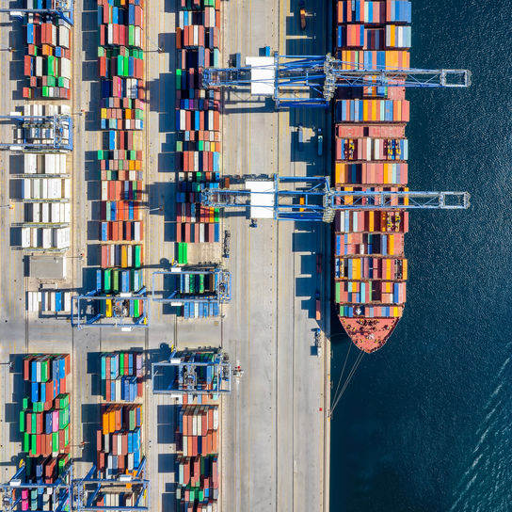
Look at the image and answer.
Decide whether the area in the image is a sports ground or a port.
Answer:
port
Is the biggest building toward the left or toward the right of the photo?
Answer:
left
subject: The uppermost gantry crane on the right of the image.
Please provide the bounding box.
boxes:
[202,54,473,112]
